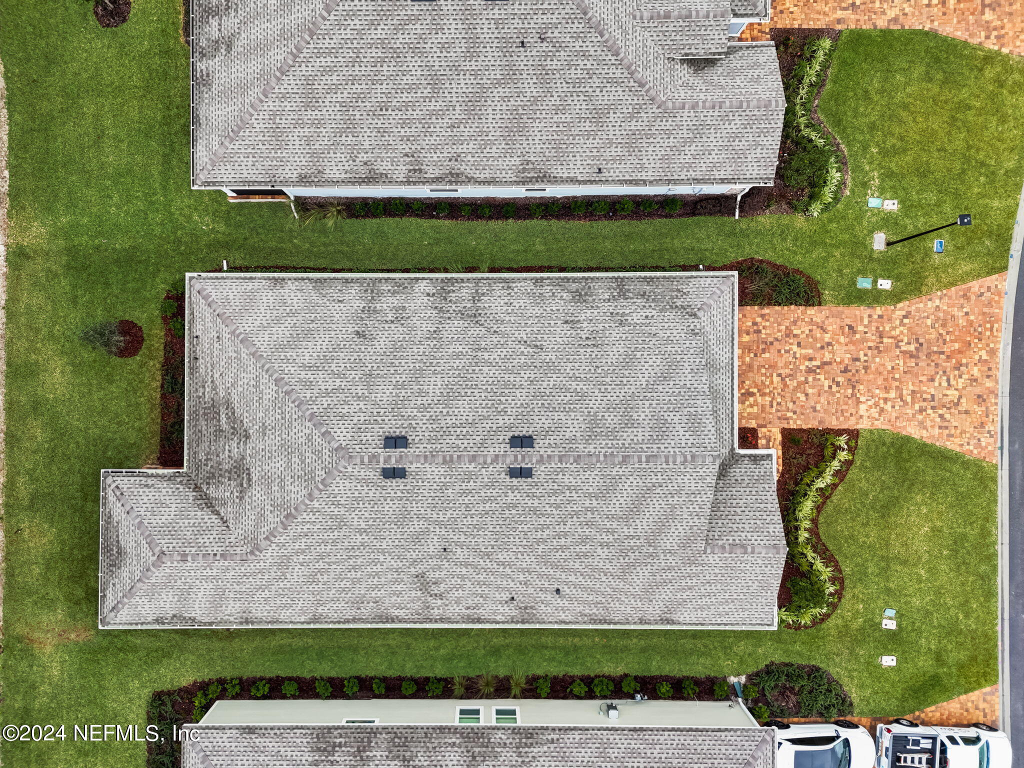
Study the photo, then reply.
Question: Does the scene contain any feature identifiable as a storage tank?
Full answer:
No, no storage tank is visible in the view.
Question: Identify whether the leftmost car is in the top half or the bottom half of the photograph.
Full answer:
The leftmost car sits in the bottom half of the picture.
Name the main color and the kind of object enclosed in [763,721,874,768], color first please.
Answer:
white car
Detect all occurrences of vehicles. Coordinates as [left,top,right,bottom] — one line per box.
[763,721,874,768]
[873,718,1015,768]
